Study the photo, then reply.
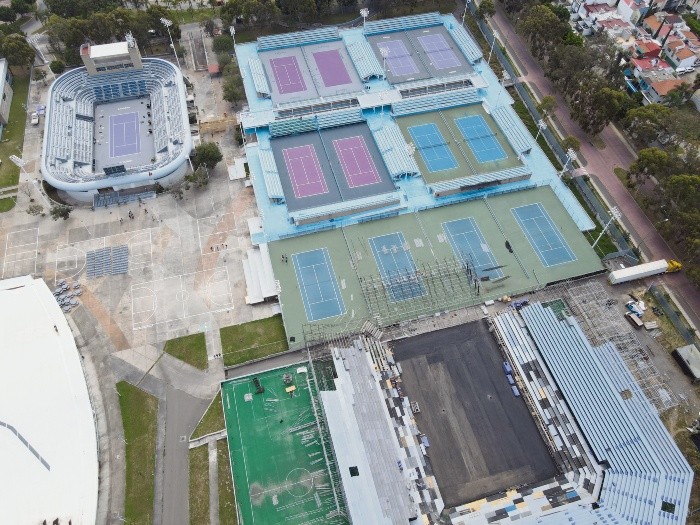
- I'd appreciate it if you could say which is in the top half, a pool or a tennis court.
tennis court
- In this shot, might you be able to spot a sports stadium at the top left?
Yes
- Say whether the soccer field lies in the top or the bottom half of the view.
bottom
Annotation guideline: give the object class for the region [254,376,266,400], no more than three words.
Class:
vehicle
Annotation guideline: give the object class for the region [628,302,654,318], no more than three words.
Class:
vehicle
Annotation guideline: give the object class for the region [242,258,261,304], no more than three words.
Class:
shed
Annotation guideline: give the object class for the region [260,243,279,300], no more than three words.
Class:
shed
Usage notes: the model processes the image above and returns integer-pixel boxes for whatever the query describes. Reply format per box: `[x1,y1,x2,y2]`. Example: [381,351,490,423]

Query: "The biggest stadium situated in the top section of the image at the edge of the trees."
[40,55,193,208]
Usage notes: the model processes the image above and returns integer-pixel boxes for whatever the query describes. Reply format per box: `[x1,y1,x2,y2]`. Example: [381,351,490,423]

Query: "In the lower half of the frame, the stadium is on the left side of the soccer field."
[0,280,98,525]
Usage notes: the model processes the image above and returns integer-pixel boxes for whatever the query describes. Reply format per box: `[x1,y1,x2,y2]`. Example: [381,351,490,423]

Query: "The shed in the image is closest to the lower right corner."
[671,337,700,389]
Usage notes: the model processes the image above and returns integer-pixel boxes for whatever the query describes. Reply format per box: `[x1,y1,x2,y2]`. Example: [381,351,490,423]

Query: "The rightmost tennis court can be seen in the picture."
[486,185,604,286]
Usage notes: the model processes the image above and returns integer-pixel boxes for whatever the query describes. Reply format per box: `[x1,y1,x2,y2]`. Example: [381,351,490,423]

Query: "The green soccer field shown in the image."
[221,360,349,525]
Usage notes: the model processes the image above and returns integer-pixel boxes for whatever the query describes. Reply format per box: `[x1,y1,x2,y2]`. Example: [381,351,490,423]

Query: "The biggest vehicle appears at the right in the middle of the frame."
[600,258,680,280]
